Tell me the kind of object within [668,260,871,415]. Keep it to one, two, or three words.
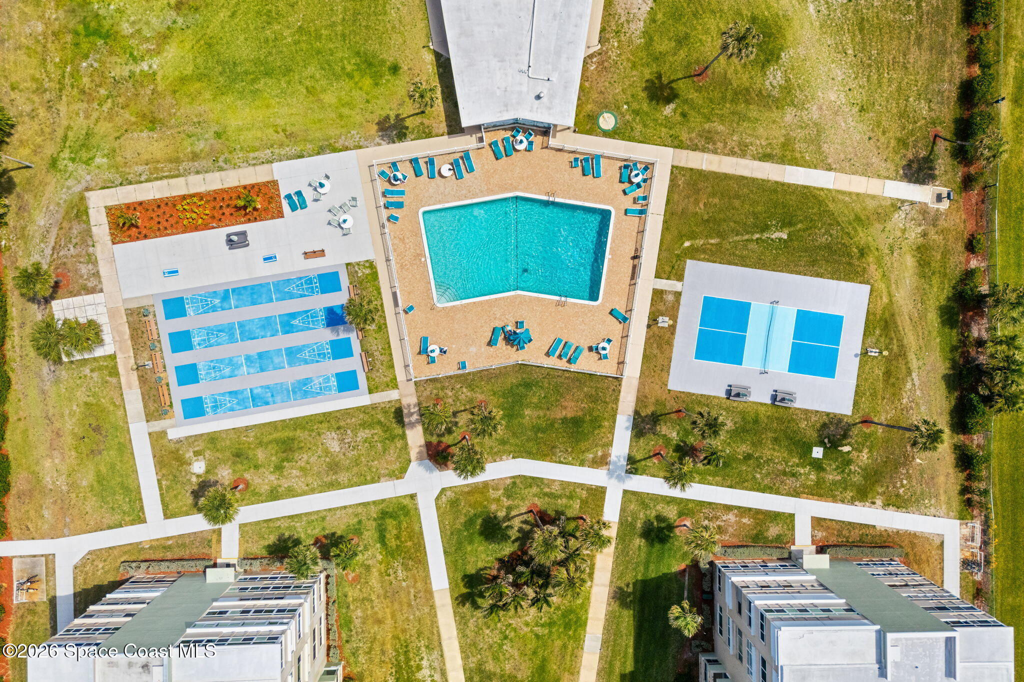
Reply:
sports court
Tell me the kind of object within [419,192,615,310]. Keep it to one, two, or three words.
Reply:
swimming pool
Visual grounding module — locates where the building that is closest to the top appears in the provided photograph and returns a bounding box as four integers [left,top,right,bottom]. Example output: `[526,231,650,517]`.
[440,0,593,135]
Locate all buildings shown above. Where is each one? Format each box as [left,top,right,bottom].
[25,571,345,682]
[693,559,1016,682]
[440,0,593,135]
